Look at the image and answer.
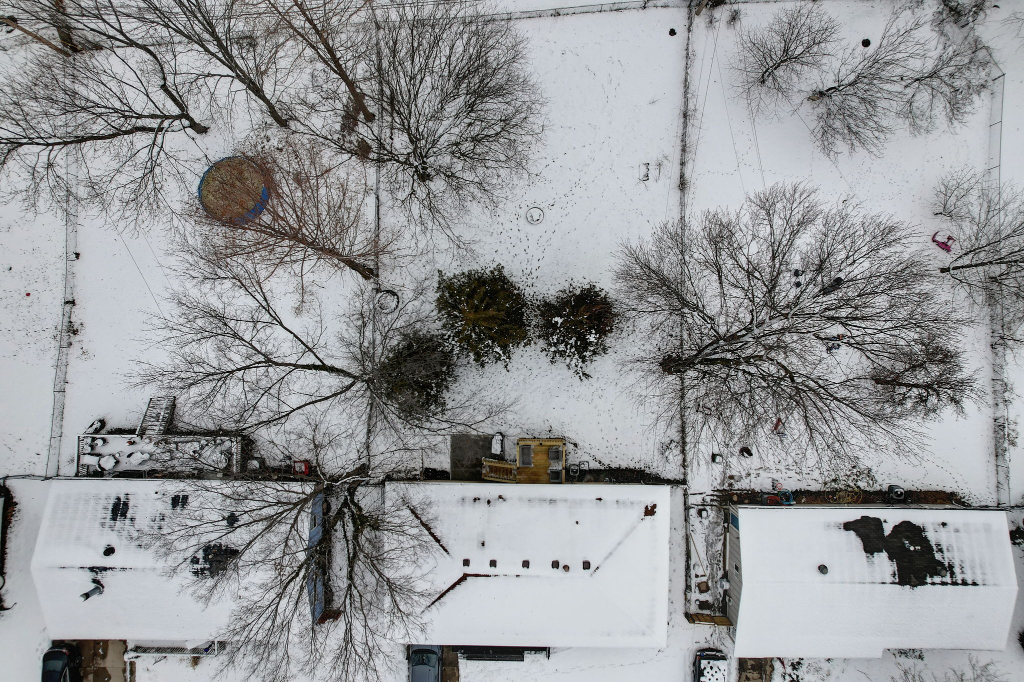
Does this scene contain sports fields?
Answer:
No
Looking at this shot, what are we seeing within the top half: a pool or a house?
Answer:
pool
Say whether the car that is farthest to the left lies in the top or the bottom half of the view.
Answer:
bottom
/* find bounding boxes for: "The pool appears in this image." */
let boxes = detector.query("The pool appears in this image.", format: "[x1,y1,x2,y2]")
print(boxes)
[198,155,276,228]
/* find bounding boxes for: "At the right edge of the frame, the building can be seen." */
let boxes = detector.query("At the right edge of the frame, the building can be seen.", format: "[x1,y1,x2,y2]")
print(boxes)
[724,491,1018,658]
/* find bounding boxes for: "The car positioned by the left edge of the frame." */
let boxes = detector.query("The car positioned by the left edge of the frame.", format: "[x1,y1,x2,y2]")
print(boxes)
[43,648,84,682]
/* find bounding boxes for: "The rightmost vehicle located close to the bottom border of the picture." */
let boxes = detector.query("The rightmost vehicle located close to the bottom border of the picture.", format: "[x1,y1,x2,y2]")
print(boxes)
[692,647,728,682]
